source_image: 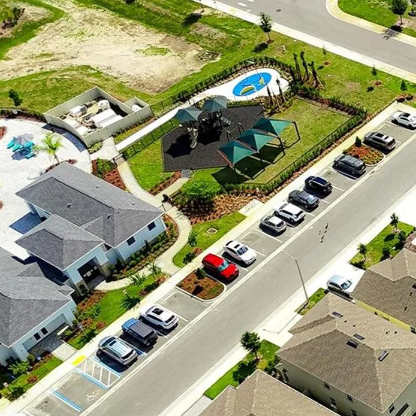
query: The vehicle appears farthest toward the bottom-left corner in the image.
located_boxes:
[94,341,137,371]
